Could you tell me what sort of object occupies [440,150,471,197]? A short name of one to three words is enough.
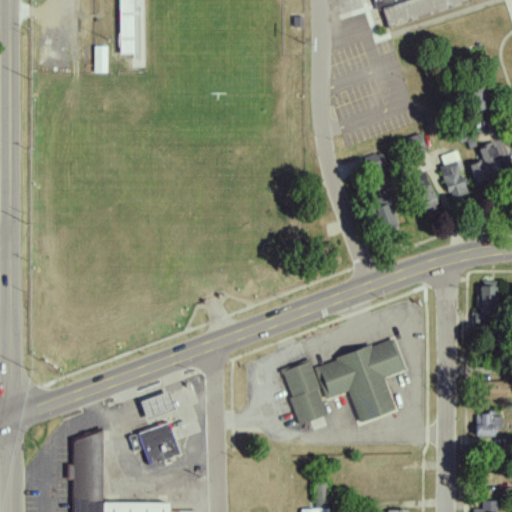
house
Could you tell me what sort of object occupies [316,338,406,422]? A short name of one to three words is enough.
building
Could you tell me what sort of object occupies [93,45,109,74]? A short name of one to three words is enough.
shed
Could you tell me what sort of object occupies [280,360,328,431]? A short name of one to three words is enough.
building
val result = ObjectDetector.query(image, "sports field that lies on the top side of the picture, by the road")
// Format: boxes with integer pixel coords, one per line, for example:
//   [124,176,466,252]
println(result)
[150,0,281,100]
